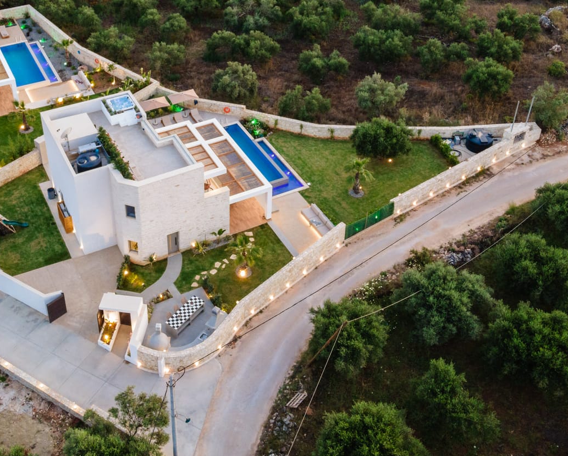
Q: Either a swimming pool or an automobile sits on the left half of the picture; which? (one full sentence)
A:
You can see a swimming pool on the left half of the picture.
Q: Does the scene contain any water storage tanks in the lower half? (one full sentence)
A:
No, I see no water storage tank in the lower half.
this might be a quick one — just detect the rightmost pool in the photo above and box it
[255,136,308,199]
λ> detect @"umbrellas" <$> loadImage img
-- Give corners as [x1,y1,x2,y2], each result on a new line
[139,96,171,127]
[168,87,200,104]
